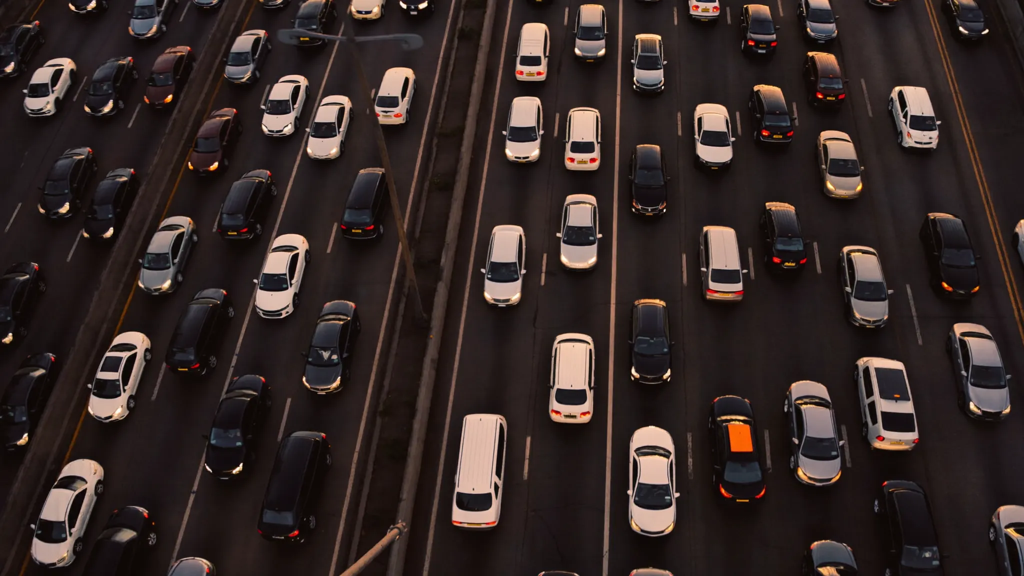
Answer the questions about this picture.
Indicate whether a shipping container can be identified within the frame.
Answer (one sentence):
No, no shipping container is visible in the view.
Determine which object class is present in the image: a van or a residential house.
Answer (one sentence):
Looking from above, you can make out a van.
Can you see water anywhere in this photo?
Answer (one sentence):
No, there is no water in the image.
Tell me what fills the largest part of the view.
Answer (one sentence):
What you mostly see from above here is paved ground.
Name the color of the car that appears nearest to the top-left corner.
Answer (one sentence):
The car that appears nearest to the top-left corner is black.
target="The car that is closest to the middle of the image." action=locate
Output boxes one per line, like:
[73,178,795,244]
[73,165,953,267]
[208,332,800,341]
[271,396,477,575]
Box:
[480,229,527,306]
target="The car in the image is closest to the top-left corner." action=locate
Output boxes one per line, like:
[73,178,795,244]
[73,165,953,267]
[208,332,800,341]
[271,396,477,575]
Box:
[0,24,39,76]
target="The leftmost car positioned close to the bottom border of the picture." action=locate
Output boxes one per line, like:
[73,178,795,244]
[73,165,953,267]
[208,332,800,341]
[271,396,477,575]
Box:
[30,460,107,569]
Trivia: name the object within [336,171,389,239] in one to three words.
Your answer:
vehicle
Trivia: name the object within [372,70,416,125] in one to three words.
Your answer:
car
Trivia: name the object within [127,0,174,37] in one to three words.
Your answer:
car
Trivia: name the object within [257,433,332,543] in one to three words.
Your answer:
vehicle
